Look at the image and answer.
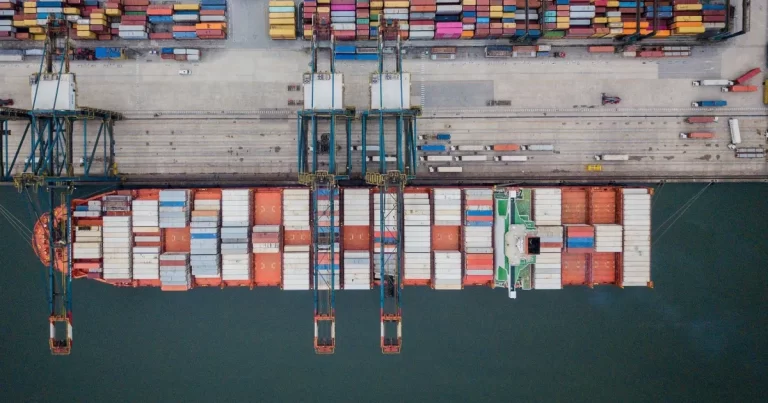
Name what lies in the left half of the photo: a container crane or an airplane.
container crane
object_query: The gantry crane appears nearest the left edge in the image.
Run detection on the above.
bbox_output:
[0,104,57,180]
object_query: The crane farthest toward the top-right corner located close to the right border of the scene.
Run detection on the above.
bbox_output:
[700,0,751,45]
